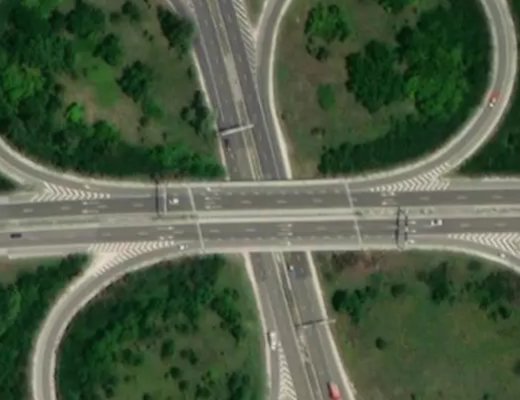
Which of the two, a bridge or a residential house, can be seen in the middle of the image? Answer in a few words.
bridge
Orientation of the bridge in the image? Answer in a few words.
horizontally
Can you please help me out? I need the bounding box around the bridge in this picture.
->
[188,178,362,254]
